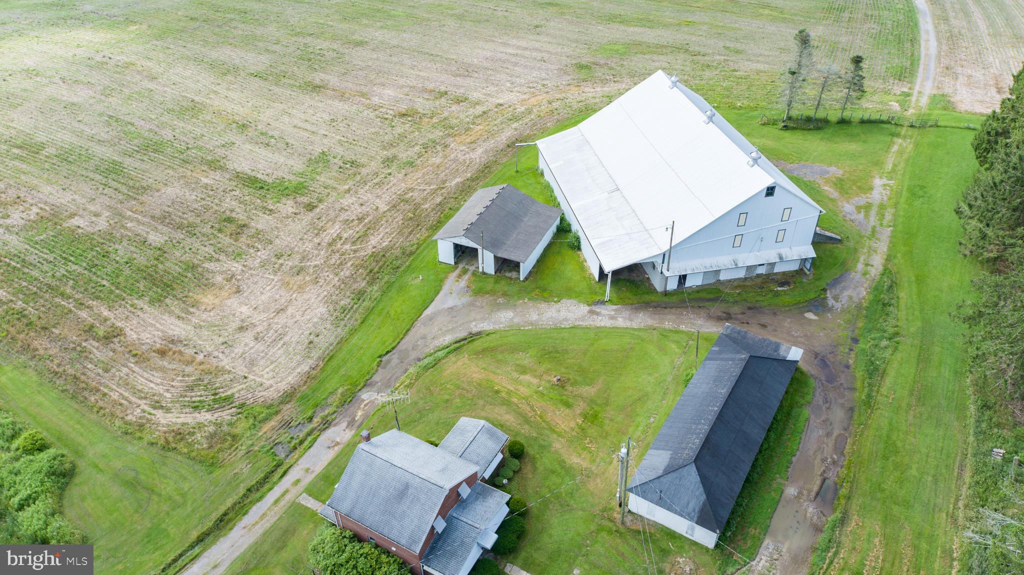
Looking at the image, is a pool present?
No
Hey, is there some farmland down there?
Yes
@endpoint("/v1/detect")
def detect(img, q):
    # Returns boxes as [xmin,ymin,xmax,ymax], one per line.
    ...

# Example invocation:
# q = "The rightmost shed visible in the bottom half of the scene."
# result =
[627,325,802,549]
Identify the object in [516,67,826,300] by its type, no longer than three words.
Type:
barn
